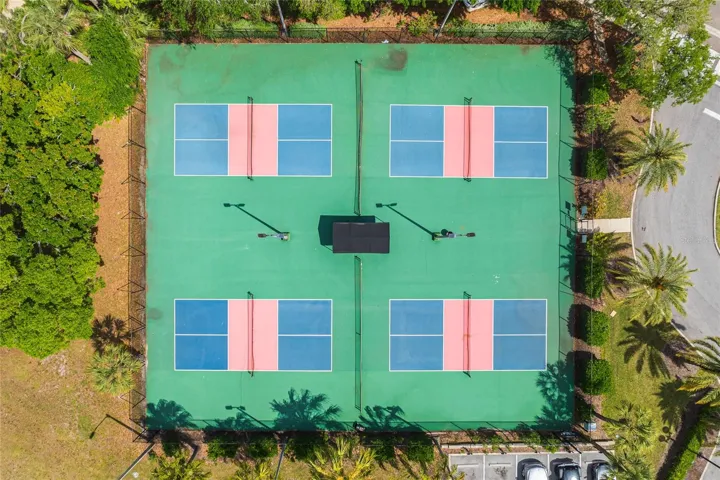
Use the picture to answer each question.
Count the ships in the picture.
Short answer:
0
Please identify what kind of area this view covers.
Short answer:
sports ground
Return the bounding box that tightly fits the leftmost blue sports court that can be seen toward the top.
[174,103,332,176]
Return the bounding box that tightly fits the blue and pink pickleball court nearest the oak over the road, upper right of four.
[390,105,548,179]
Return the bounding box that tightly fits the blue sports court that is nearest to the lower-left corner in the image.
[174,299,332,371]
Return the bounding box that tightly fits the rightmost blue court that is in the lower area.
[390,299,548,371]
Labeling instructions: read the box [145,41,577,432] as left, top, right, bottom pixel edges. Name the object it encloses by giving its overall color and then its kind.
green sports court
